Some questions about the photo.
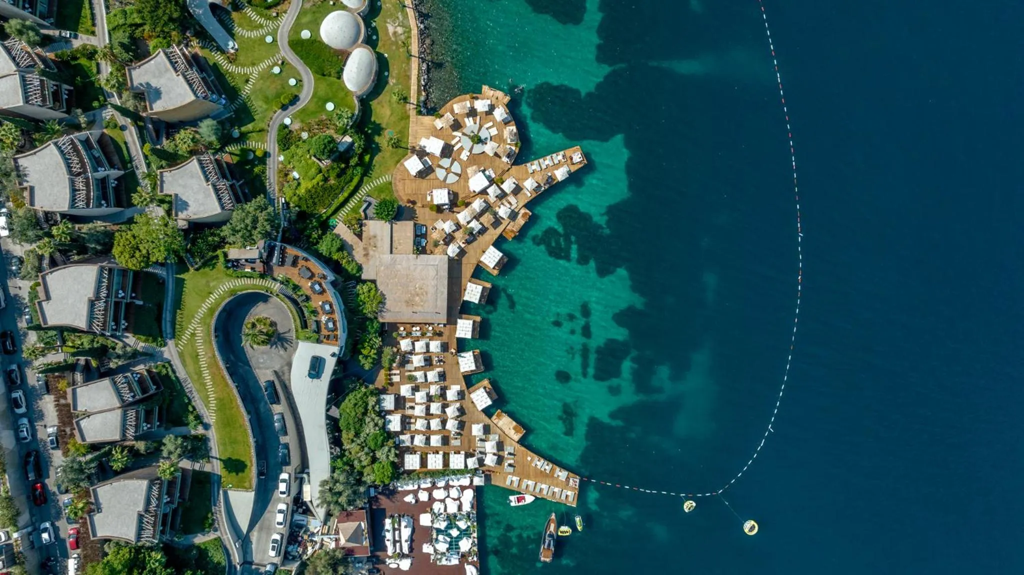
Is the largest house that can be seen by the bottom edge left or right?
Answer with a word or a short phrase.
left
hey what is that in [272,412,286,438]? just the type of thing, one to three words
car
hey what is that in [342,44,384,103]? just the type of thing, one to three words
building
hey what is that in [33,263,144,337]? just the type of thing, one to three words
house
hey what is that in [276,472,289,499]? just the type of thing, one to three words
vehicle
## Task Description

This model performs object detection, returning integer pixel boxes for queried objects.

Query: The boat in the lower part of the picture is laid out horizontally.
[508,494,535,506]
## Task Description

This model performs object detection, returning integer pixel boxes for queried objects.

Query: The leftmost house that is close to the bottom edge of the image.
[86,464,193,548]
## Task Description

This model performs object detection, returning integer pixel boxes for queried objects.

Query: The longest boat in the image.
[540,514,557,566]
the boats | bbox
[575,516,582,531]
[508,494,535,506]
[540,514,557,566]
